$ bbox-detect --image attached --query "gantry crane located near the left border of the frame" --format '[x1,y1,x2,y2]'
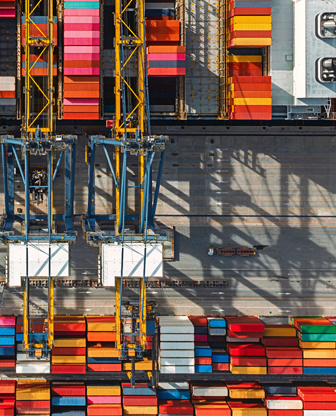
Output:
[0,0,81,358]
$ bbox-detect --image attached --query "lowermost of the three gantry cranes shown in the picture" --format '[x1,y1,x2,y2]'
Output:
[123,311,157,391]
